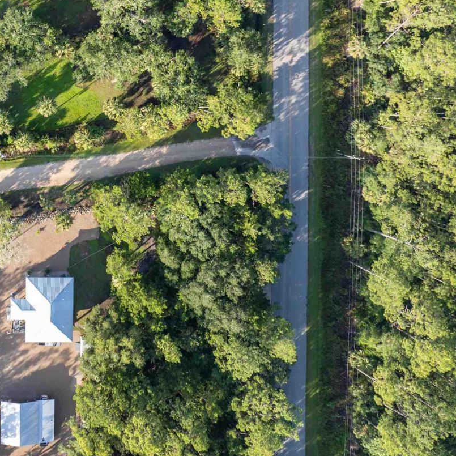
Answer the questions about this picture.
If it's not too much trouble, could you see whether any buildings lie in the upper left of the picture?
No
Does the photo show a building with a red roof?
No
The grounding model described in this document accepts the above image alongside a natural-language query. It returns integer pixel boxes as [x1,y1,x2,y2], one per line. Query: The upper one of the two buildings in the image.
[0,270,73,343]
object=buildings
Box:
[0,270,73,343]
[0,396,55,450]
